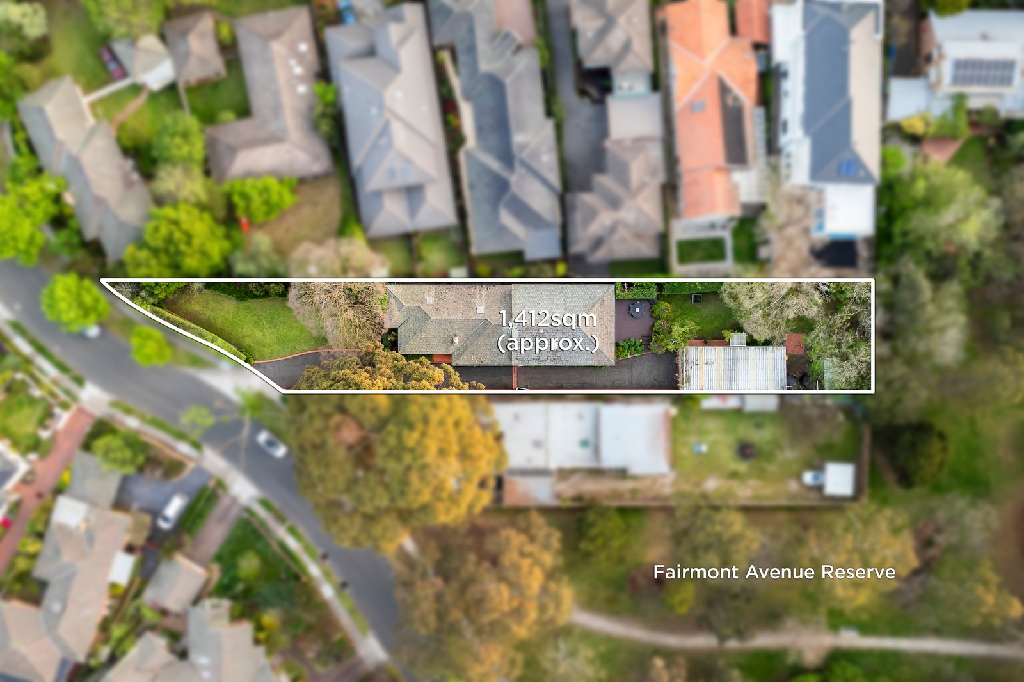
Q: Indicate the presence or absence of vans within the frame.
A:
Yes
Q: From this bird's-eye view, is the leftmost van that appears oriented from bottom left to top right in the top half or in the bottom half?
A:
bottom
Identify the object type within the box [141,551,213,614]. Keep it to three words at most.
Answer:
building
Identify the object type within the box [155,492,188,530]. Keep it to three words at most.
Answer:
van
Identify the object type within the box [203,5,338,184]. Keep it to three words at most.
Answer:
house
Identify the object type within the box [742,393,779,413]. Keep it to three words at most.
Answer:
shed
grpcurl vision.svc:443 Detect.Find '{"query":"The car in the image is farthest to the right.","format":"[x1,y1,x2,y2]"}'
[799,470,823,486]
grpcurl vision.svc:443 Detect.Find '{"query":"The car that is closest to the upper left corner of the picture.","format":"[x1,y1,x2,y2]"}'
[101,48,128,82]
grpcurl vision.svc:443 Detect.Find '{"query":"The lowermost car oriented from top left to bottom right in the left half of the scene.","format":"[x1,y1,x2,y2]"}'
[257,428,289,459]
